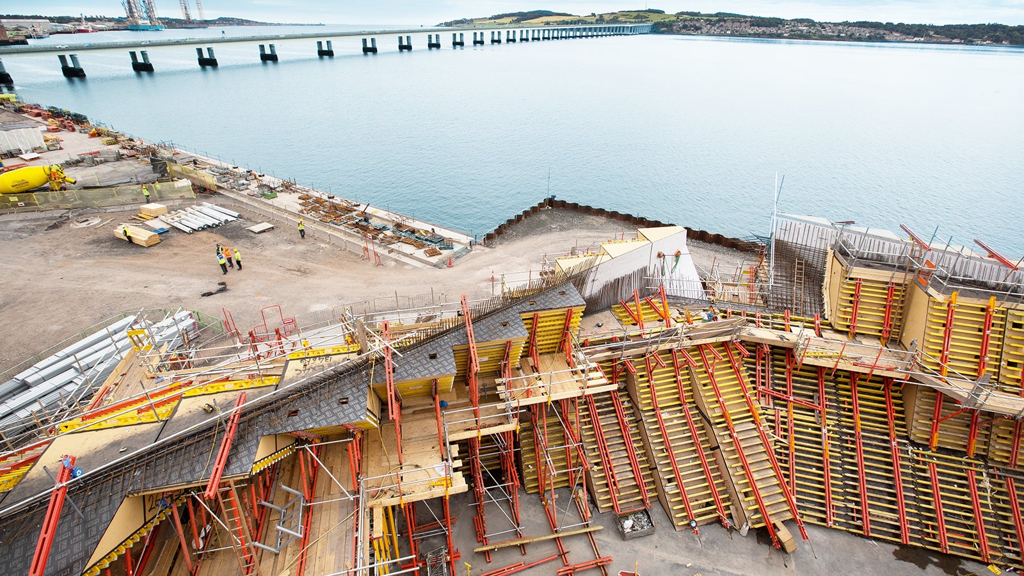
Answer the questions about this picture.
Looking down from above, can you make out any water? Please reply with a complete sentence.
Yes, there's water in this view.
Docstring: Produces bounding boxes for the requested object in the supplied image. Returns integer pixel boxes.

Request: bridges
[0,22,654,86]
